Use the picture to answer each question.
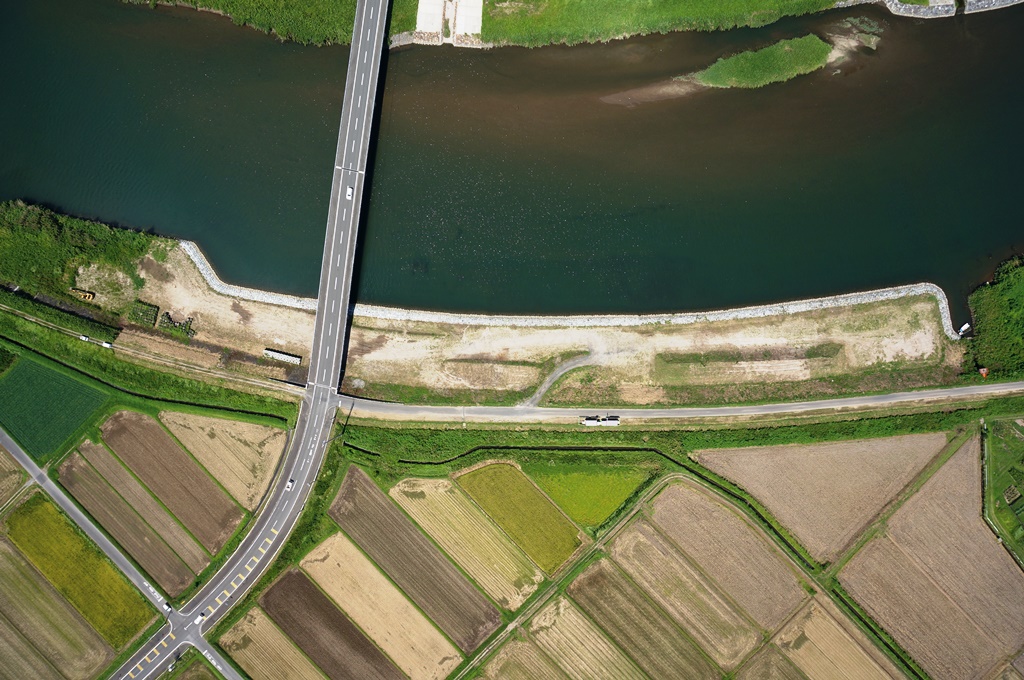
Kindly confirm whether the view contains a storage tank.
No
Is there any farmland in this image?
Yes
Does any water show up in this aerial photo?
Yes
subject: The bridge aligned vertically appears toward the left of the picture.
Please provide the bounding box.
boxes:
[305,0,390,394]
